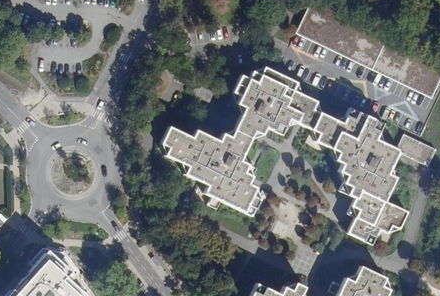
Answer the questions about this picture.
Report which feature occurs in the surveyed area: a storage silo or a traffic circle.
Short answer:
traffic circle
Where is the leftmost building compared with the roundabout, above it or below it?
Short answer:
below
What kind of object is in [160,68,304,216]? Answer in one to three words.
building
